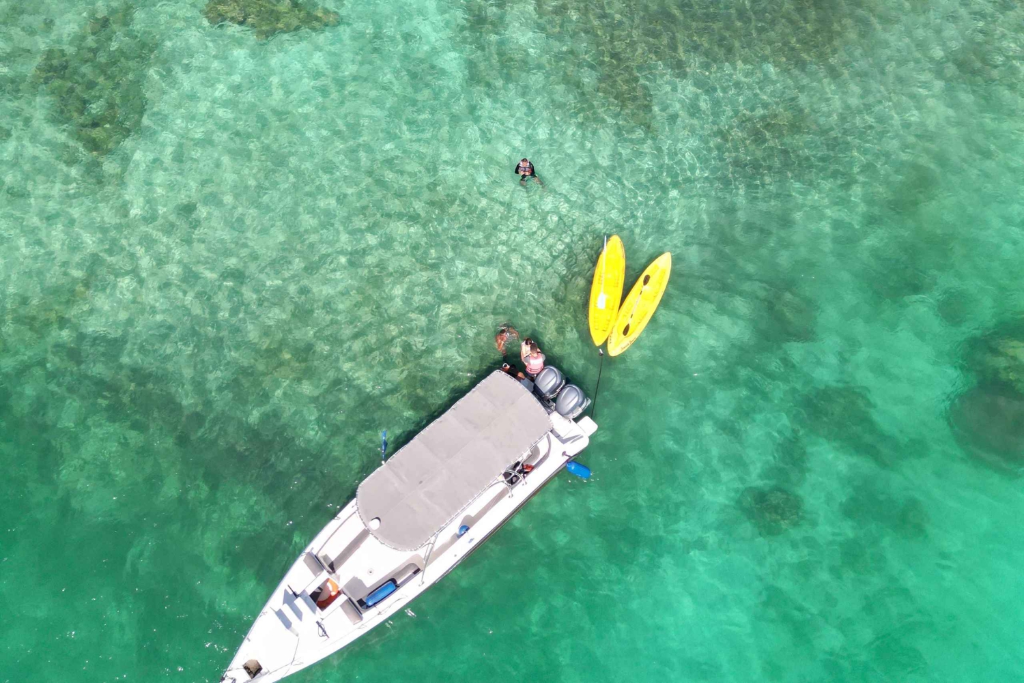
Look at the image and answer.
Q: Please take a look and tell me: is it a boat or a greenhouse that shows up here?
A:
boat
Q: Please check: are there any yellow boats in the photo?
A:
Yes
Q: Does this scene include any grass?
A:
No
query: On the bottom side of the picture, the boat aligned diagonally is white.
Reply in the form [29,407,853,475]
[215,368,599,683]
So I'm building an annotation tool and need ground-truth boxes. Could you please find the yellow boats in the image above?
[589,233,627,346]
[610,250,674,357]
